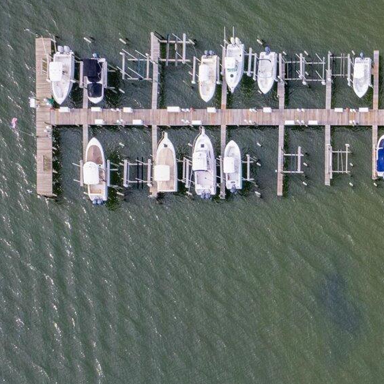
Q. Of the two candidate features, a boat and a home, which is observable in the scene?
boat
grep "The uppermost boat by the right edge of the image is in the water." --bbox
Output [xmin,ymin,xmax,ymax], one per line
[353,49,371,97]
